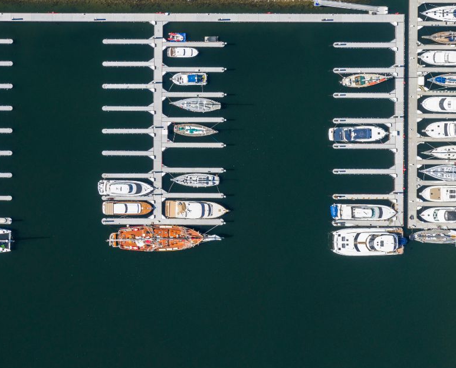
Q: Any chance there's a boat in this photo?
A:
Yes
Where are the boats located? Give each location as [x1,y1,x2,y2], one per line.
[204,36,219,42]
[102,199,156,218]
[166,33,184,42]
[422,120,456,138]
[340,72,402,90]
[172,174,219,190]
[418,94,456,113]
[327,125,390,145]
[417,48,456,66]
[167,48,199,57]
[0,228,14,252]
[330,203,400,222]
[417,186,456,202]
[330,227,406,255]
[416,165,456,181]
[424,146,456,159]
[164,200,230,220]
[421,30,456,45]
[170,97,220,115]
[416,207,456,225]
[413,229,456,244]
[169,71,207,86]
[419,6,456,21]
[428,72,456,88]
[97,180,155,196]
[174,123,219,137]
